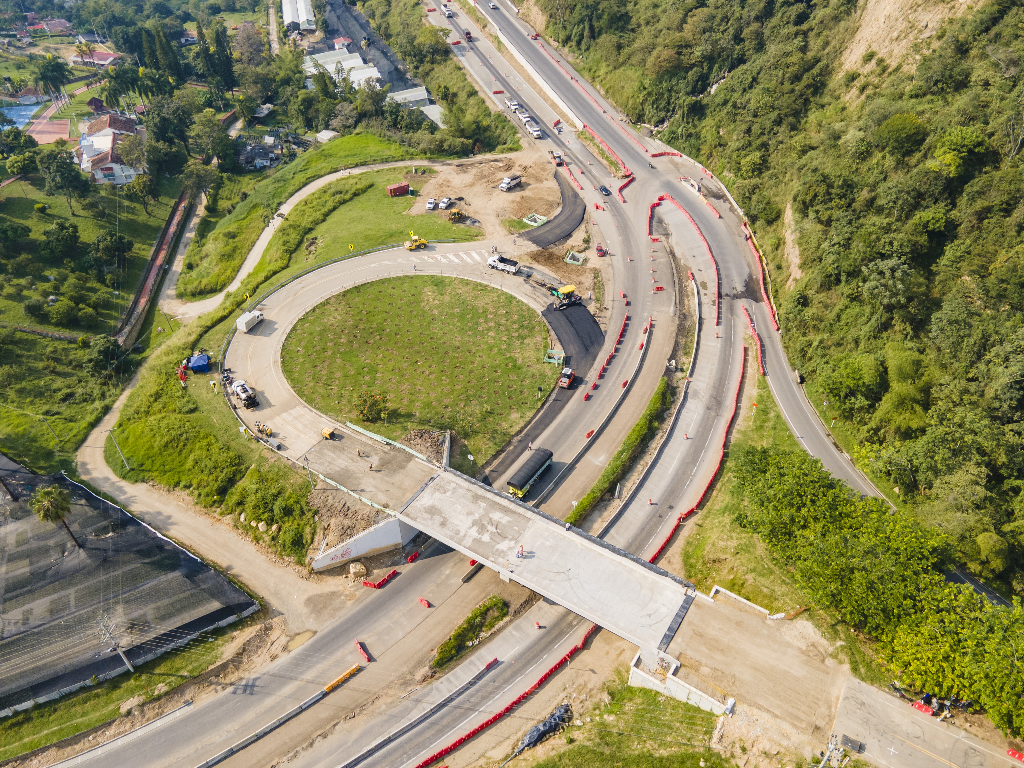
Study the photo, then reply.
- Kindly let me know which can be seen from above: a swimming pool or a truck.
truck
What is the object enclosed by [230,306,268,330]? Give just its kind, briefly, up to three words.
truck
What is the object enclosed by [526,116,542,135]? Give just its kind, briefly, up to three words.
vehicle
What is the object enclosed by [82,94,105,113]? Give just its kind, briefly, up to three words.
gazebo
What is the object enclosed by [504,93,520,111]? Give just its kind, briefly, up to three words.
vehicle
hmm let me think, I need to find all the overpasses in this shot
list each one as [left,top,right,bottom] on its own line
[310,427,697,657]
